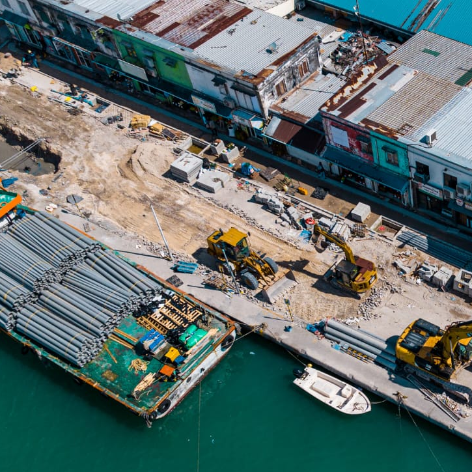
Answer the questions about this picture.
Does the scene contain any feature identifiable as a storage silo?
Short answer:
No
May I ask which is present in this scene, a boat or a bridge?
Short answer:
boat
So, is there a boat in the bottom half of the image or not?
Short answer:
Yes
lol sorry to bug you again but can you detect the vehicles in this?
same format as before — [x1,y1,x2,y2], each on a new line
[393,314,472,401]
[313,223,382,301]
[213,227,302,306]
